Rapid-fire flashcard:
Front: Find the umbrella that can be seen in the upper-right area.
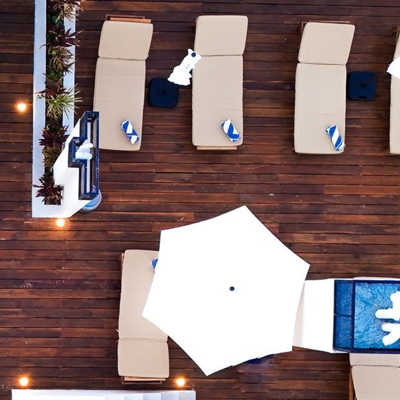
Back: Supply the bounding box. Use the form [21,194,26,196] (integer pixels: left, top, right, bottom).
[347,55,400,100]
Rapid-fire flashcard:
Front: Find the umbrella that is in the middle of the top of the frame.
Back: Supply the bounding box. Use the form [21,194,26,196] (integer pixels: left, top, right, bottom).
[149,52,197,107]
